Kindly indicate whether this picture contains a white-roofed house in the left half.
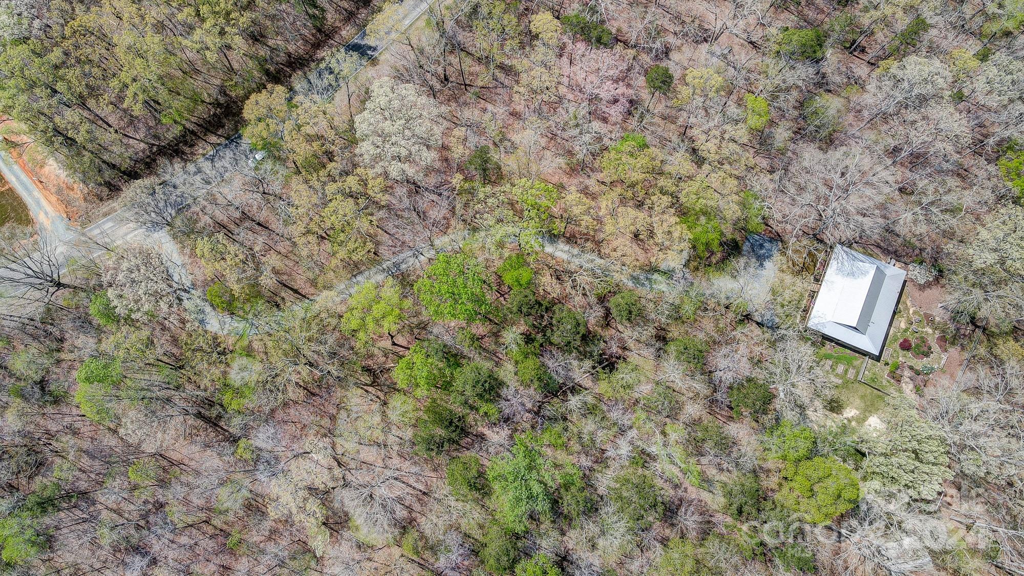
No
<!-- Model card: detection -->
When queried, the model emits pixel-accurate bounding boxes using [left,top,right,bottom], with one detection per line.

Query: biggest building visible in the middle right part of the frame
[798,245,907,355]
